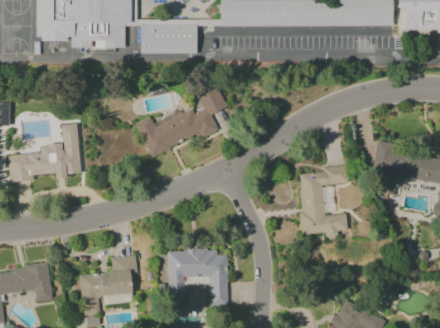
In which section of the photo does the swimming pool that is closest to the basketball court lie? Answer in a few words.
left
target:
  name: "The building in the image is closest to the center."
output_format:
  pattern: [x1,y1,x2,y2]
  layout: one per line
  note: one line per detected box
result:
[135,90,228,157]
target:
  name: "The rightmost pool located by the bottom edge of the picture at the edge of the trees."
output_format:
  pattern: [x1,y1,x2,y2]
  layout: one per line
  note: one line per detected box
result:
[176,316,202,328]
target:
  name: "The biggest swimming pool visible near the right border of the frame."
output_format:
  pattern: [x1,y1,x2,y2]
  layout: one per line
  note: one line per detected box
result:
[404,196,428,212]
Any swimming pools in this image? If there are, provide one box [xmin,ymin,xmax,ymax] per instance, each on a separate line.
[10,302,38,328]
[22,120,51,140]
[404,196,428,212]
[104,312,132,325]
[176,316,202,328]
[144,93,172,112]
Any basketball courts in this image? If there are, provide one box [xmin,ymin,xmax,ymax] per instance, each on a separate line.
[0,0,36,56]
